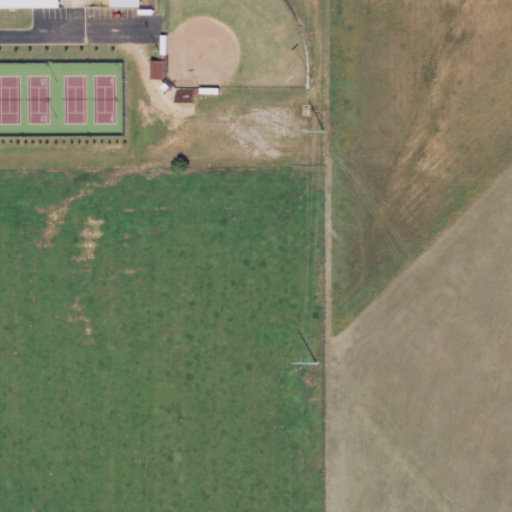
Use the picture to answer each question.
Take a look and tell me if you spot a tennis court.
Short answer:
Yes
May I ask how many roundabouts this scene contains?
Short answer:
0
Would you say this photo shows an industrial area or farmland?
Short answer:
farmland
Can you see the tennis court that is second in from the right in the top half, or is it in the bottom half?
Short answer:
top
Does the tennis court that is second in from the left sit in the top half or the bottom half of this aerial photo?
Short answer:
top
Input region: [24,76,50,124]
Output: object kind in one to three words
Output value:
tennis court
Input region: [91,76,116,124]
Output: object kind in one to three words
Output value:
tennis court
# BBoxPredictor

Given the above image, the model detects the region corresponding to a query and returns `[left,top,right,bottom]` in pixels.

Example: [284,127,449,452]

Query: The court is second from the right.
[62,76,87,124]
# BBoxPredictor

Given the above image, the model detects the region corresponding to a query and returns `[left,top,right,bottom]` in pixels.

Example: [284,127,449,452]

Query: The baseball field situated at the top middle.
[167,0,310,88]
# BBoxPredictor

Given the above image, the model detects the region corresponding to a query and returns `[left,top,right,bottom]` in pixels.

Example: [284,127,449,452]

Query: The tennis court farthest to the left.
[0,76,20,124]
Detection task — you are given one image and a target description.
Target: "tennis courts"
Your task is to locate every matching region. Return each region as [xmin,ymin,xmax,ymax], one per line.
[24,76,50,124]
[62,76,87,124]
[91,76,116,124]
[0,76,20,124]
